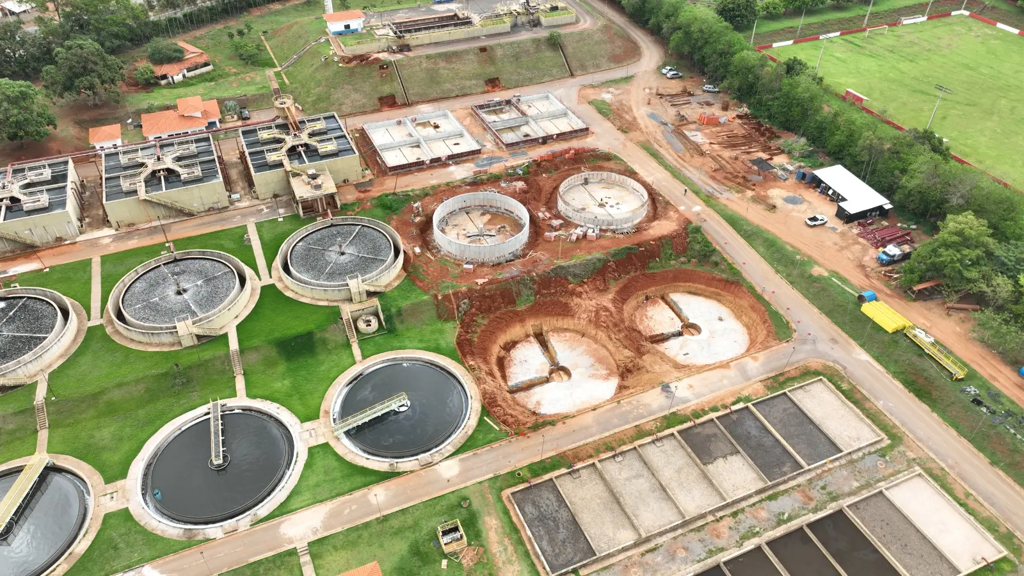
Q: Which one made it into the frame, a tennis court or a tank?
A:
tank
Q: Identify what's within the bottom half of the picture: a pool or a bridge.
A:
bridge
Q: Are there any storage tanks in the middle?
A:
Yes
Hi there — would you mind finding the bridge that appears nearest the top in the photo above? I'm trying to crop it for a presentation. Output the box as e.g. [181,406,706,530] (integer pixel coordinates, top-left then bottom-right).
[904,325,970,379]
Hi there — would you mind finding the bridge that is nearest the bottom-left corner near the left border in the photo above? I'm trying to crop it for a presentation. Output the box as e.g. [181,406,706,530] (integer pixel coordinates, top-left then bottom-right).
[0,448,51,527]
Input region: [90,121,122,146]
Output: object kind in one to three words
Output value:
house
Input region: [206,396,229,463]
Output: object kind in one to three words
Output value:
bridge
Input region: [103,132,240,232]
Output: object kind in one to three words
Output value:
storage tank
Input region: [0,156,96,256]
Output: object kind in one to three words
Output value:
storage tank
